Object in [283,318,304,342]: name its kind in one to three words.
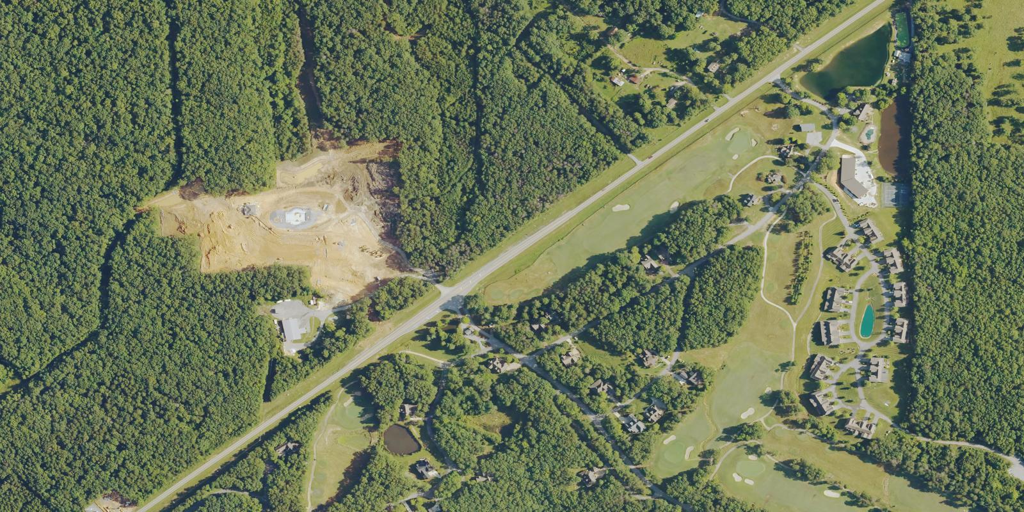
building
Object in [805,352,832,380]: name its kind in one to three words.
house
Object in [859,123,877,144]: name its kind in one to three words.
swimming pool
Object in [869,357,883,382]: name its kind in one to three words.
house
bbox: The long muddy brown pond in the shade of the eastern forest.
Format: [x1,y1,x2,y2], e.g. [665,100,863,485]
[879,101,911,175]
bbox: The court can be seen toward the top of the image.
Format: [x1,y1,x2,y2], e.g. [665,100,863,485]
[882,183,909,207]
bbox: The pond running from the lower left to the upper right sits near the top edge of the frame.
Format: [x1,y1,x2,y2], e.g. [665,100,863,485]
[800,22,891,97]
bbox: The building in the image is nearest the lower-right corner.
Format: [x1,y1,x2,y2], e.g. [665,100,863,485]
[847,415,875,437]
